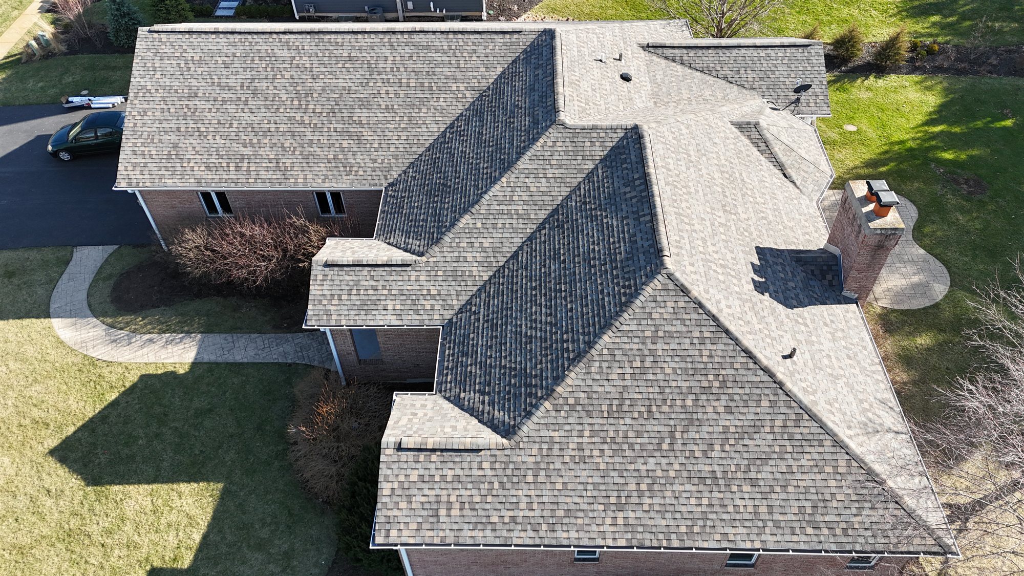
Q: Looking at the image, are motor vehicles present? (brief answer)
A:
Yes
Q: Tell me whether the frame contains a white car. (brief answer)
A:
No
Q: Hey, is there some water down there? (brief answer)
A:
No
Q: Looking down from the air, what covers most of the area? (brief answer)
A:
buildings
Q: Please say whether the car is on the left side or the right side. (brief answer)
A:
left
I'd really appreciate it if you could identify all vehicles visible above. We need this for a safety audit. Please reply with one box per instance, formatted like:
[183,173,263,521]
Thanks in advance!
[40,109,127,160]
